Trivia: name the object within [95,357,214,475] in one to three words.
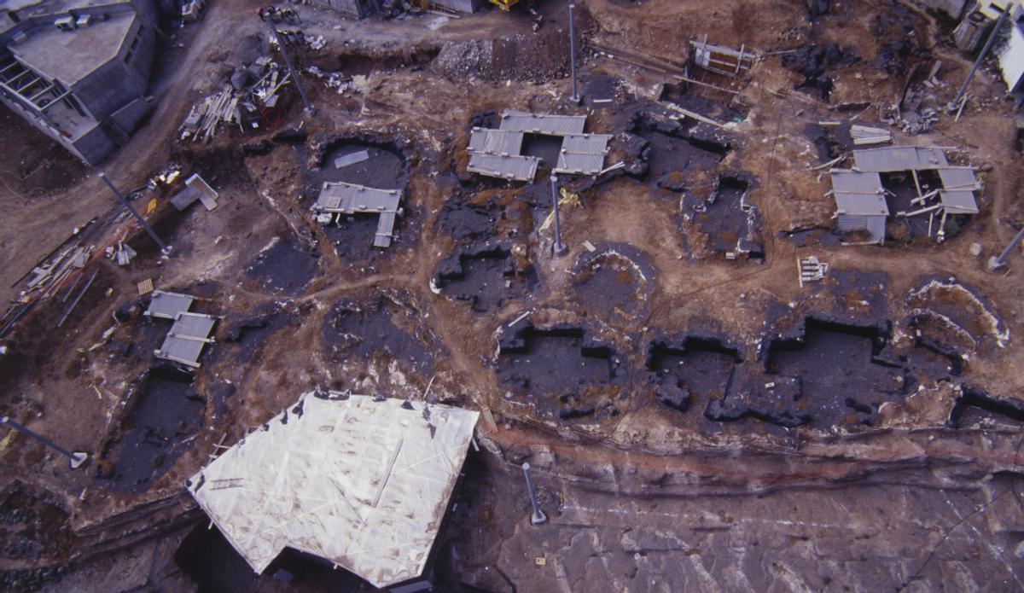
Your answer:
house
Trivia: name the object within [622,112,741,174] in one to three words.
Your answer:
house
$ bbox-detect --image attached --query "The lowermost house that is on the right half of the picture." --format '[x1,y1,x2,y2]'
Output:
[940,377,1024,427]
